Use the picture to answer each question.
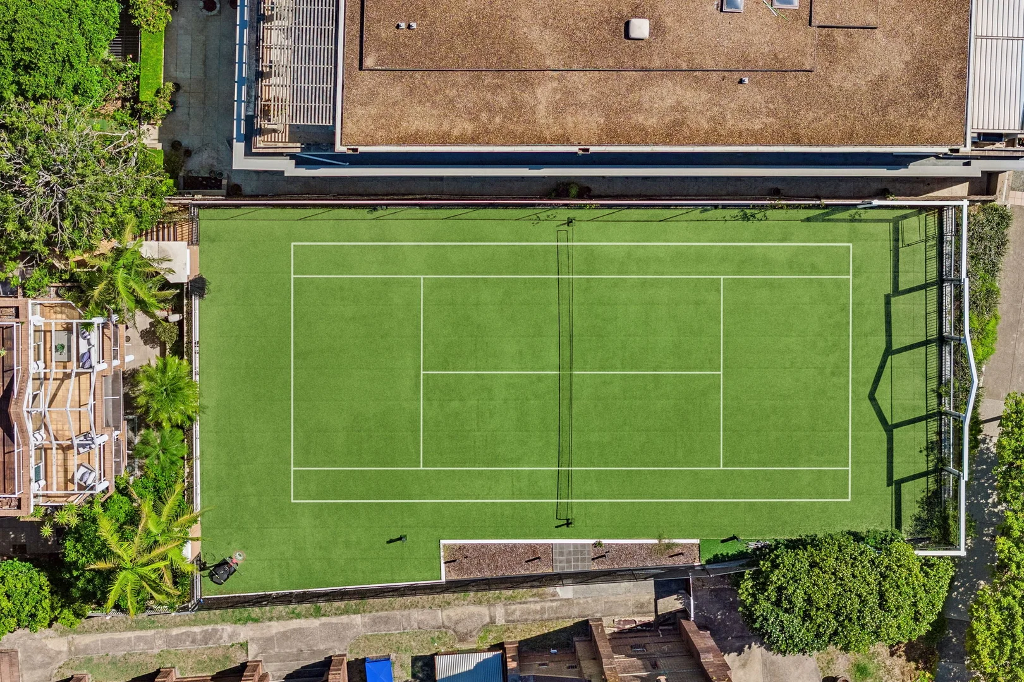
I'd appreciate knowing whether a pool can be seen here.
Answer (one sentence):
No, the frame has no pool in it.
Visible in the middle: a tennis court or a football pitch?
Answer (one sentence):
Looking in the middle, you will find a tennis court.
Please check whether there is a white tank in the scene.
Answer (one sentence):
No, there is no white tank in the image.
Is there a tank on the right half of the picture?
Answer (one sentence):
No, the scene shows no tank on the right half of the picture.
